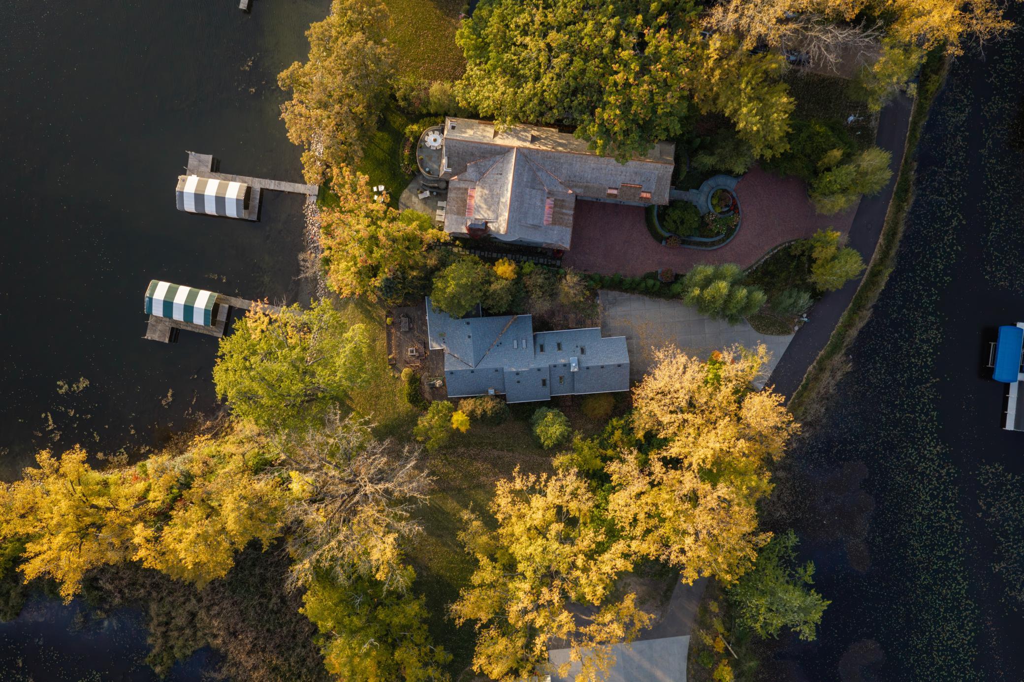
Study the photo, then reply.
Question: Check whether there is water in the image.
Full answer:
Yes, water shows up in the scene.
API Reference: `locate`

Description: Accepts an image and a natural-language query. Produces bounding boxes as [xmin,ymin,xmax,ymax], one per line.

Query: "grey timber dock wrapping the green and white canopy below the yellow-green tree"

[141,294,305,343]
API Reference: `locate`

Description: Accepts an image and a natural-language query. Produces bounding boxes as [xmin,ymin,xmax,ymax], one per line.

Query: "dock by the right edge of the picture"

[1002,372,1024,430]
